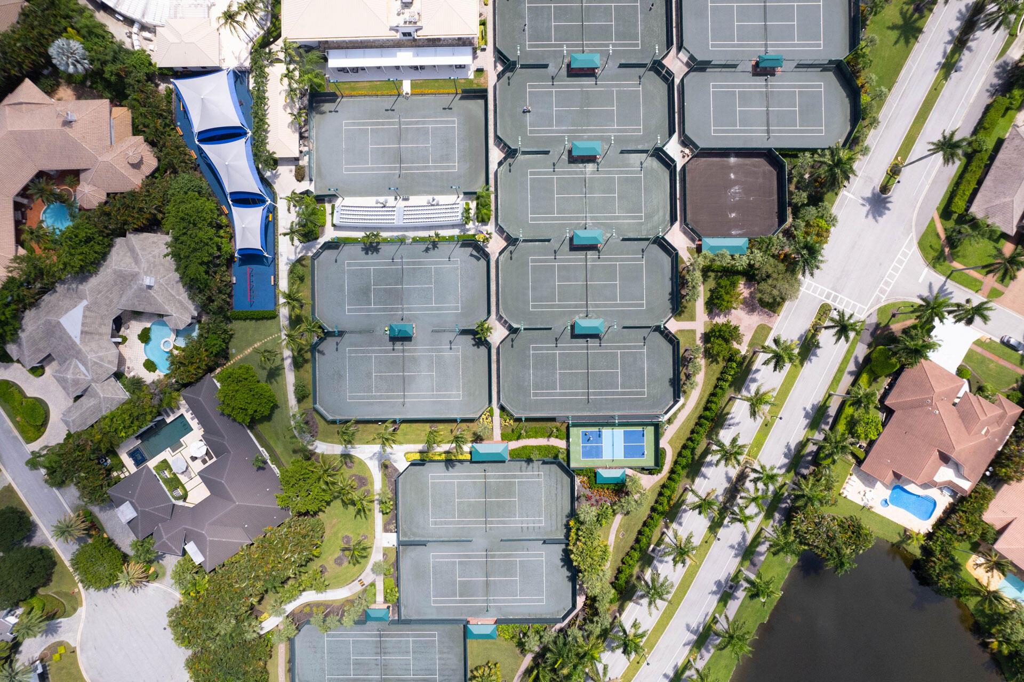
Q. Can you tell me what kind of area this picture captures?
residential area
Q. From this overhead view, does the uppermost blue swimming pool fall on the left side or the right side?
left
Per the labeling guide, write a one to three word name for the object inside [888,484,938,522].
swimming pool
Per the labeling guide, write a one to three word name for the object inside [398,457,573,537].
tennis court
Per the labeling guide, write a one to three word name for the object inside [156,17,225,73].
building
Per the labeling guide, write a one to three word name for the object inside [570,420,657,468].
sports court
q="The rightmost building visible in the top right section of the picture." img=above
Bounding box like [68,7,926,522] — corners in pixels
[964,114,1024,236]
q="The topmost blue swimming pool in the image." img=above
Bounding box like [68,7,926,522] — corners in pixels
[40,195,80,234]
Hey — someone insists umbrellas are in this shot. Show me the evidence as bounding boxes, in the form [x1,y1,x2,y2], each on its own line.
[172,457,188,472]
[191,440,208,456]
